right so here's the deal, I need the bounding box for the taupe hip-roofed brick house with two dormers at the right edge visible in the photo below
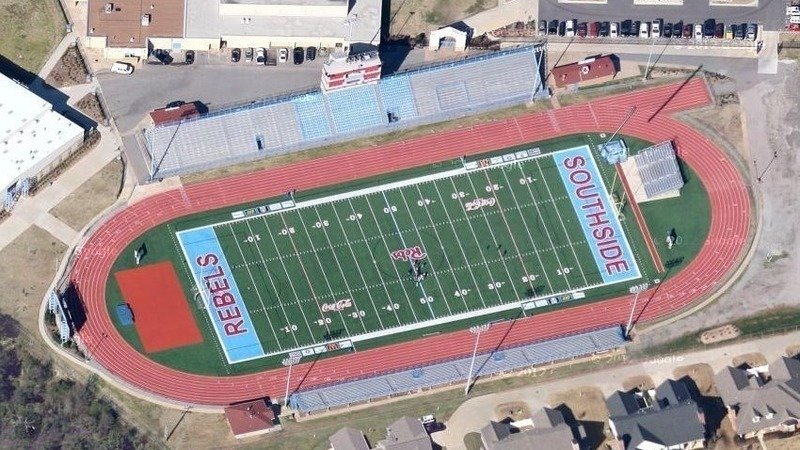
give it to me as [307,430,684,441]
[712,355,800,441]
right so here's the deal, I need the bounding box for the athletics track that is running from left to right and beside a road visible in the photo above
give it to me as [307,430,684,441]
[62,78,754,405]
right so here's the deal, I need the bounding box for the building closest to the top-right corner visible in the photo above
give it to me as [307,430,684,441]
[550,56,620,94]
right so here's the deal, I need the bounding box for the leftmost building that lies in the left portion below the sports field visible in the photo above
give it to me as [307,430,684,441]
[224,398,280,441]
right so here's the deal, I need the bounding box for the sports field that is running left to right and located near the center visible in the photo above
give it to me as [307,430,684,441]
[103,131,713,377]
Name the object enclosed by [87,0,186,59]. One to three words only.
building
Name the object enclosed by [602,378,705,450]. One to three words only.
house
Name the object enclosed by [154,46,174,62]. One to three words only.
vehicle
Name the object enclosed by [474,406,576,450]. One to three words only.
house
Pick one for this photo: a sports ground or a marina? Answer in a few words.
sports ground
